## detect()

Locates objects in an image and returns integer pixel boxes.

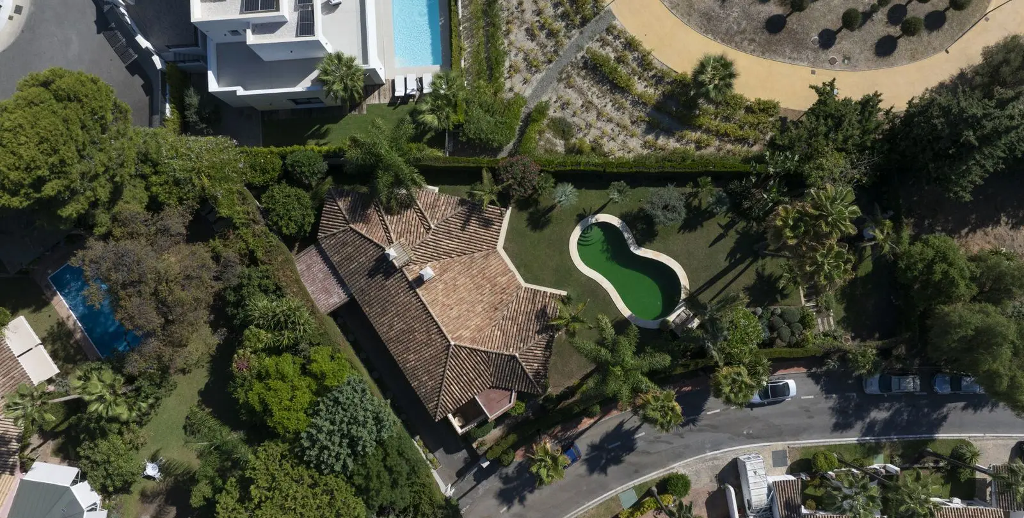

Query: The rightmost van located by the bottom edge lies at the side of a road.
[738,449,773,518]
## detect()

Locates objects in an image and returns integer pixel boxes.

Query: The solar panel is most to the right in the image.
[298,8,316,37]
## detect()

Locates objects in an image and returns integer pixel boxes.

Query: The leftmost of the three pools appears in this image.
[46,249,140,361]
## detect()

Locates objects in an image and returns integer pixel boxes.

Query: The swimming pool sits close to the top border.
[390,0,446,70]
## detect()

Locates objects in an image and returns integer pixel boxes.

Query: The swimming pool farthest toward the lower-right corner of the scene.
[568,212,692,329]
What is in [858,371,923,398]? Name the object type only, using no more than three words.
car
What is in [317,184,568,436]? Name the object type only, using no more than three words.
house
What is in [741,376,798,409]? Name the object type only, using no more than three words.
car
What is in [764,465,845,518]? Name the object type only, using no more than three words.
house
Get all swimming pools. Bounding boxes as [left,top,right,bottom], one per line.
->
[390,0,446,70]
[568,212,692,329]
[46,249,140,361]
